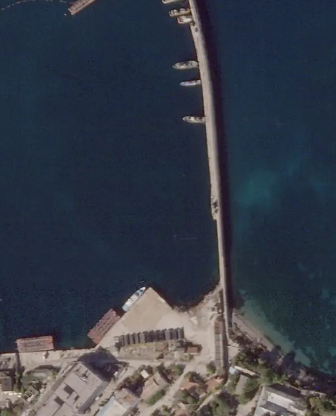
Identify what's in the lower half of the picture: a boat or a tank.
boat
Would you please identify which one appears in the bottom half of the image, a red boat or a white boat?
white boat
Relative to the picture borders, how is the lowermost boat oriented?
at an angle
